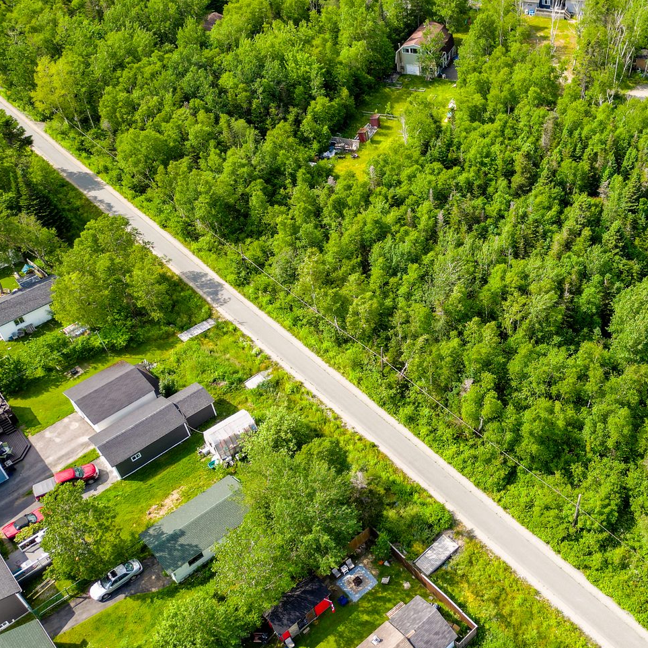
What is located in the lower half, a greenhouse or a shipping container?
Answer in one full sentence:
Looking in the lower half, you will find a greenhouse.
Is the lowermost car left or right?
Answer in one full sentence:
You can find the lowermost car on the left side of the picture.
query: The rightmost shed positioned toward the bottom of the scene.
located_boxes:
[391,594,458,648]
